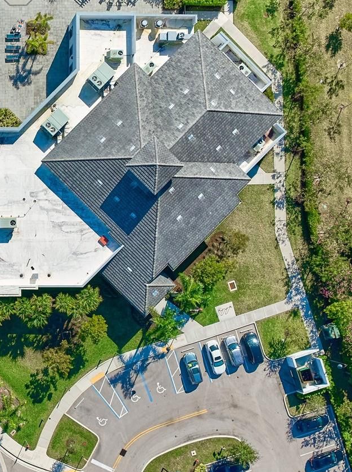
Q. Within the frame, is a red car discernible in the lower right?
No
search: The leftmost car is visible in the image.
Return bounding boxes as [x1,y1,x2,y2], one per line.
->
[182,350,201,385]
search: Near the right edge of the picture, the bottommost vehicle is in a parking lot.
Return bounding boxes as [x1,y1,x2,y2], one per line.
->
[306,449,343,472]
